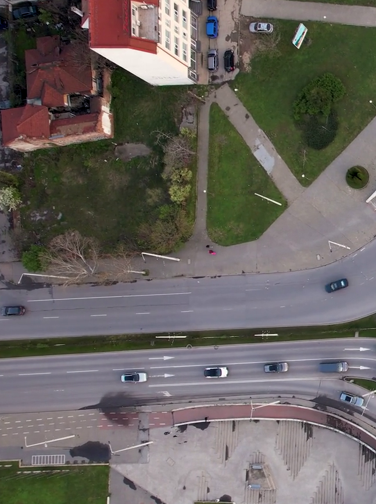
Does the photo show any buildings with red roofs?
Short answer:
Yes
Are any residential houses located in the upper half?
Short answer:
Yes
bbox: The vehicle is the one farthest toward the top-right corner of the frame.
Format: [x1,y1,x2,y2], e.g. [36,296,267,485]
[251,22,274,35]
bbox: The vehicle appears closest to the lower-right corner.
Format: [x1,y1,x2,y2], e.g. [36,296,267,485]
[340,392,365,407]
